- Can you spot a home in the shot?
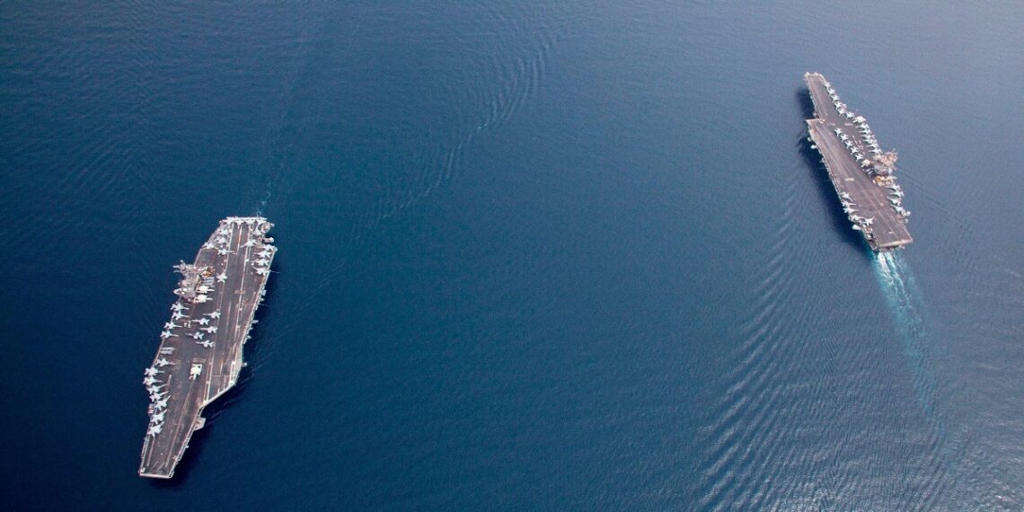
No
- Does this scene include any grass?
No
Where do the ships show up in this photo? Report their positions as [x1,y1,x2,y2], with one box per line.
[137,216,280,481]
[805,75,914,248]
